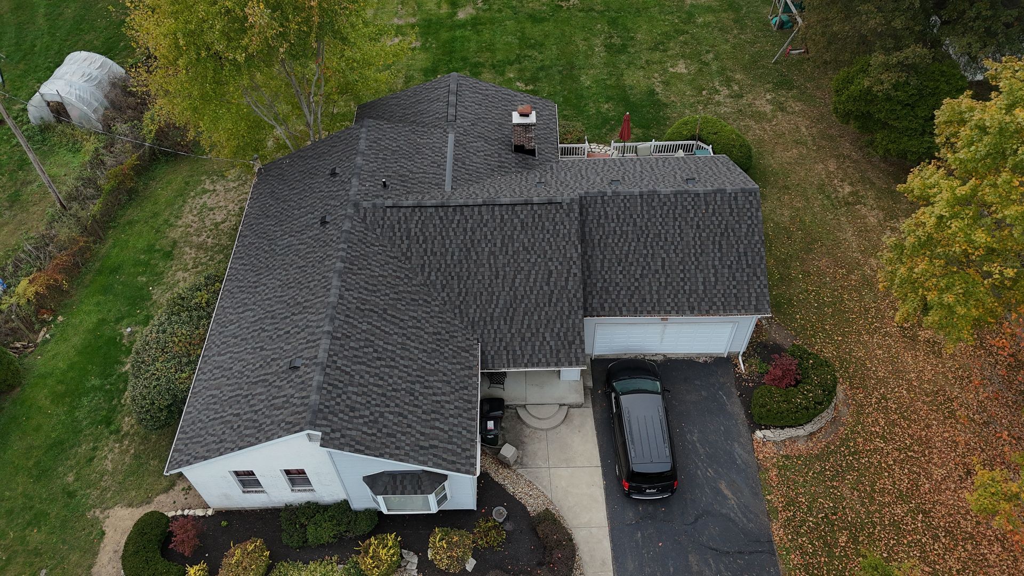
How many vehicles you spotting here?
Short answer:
1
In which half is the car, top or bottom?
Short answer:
bottom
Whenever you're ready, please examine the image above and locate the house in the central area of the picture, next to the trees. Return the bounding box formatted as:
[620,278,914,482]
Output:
[162,73,772,516]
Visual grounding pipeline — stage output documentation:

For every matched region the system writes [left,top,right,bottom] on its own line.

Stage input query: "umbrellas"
[617,113,632,150]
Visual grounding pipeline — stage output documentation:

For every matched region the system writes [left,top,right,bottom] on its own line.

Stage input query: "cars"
[604,363,680,502]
